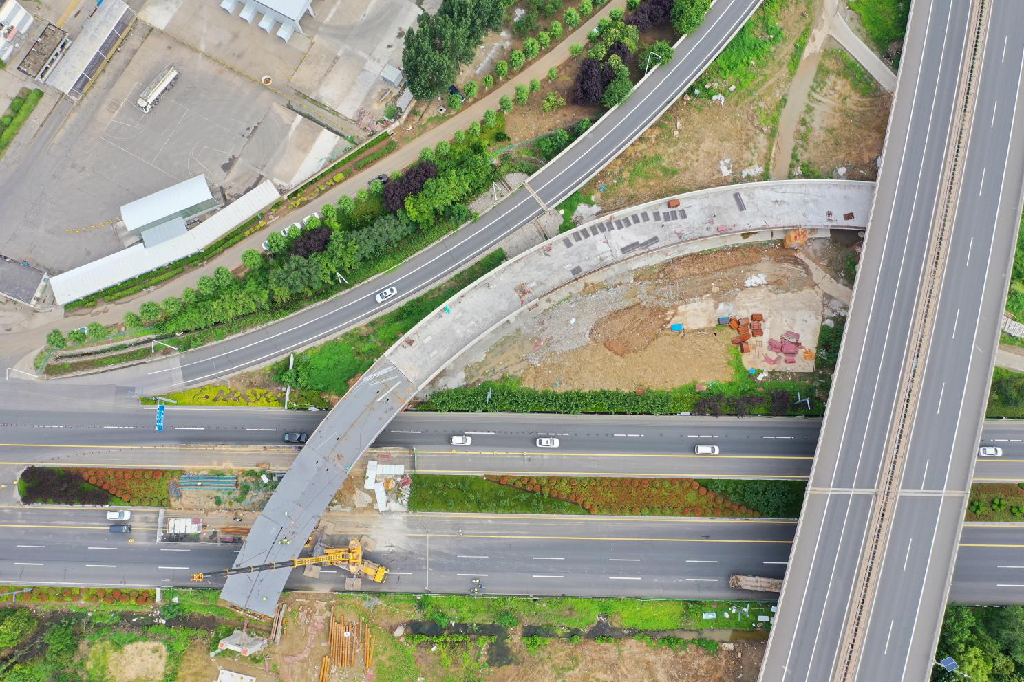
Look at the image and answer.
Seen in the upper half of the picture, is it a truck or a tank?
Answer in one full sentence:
You can see a truck in the upper half of the picture.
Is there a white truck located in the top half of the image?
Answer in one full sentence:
Yes, the scene does show a white truck in the top half of the image.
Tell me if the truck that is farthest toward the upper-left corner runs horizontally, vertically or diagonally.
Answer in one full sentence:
The truck that is farthest toward the upper-left corner is oriented diagonally.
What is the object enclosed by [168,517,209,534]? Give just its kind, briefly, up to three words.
building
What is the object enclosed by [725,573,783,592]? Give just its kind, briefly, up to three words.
vehicle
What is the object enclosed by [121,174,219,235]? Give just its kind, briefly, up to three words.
shed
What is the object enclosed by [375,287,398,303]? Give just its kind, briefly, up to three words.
car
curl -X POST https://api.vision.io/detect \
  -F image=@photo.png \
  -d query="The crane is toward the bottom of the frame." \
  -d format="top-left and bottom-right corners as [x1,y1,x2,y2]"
[192,525,390,588]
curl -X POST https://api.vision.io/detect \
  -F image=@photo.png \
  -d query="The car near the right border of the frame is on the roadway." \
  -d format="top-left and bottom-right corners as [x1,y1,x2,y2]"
[978,446,1002,458]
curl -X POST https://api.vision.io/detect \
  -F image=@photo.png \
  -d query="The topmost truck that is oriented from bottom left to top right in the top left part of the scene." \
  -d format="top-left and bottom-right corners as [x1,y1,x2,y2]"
[138,64,177,109]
